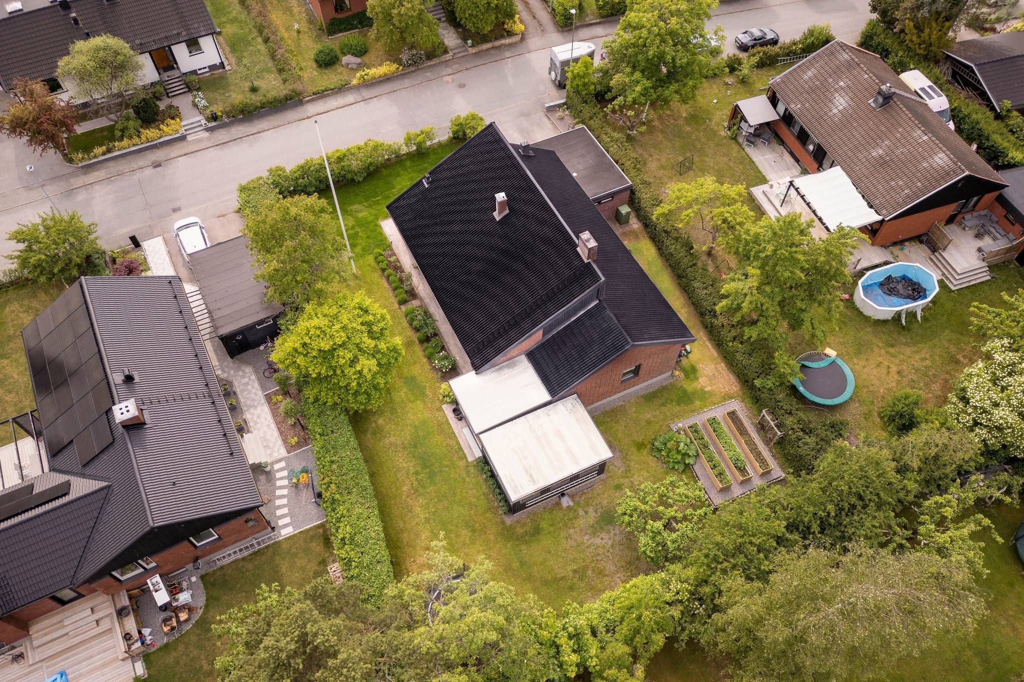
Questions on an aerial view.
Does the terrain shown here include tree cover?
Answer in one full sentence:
Yes, the picture does contain tree cover.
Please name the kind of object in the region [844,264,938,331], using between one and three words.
swimming pool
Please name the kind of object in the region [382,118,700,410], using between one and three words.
house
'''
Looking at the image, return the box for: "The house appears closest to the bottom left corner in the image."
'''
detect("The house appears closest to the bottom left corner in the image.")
[0,273,278,643]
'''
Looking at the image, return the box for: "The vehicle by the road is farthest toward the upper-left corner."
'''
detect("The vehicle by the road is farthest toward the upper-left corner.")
[173,217,213,270]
